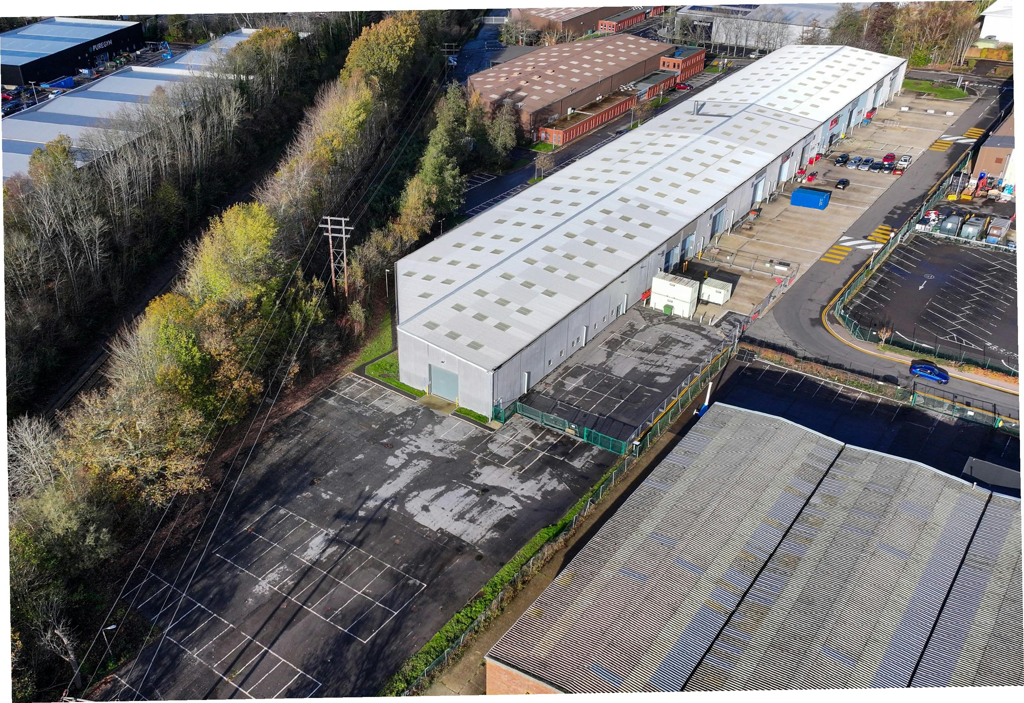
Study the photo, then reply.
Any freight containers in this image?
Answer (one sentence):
Yes, the photo shows a freight container.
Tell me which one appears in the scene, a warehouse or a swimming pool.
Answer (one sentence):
The image shows a warehouse.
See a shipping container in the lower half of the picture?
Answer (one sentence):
No, no shipping container appears in the lower half of the picture.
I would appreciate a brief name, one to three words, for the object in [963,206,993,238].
shipping container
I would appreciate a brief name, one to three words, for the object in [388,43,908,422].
warehouse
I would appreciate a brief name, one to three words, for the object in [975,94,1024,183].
building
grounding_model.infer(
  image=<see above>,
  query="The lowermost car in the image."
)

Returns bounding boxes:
[911,365,949,384]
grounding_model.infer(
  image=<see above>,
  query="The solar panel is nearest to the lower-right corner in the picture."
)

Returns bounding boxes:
[734,341,765,364]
